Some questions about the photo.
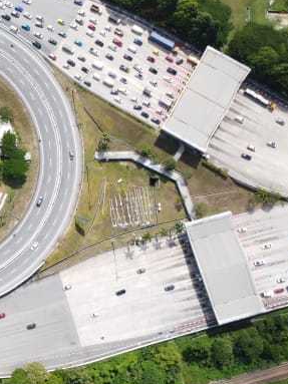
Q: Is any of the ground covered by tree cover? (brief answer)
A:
Yes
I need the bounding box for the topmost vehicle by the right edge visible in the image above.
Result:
[243,88,277,109]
